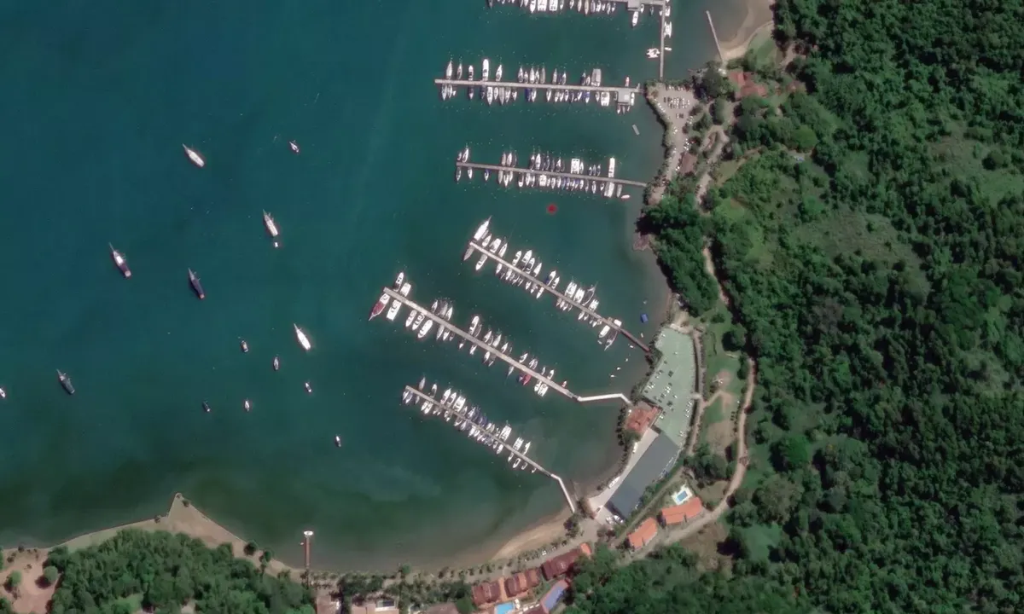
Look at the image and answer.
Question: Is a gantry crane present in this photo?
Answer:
No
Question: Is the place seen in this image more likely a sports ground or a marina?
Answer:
marina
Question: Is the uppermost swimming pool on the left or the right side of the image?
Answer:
right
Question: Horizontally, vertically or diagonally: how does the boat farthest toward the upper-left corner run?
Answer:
diagonally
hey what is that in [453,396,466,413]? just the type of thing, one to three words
boat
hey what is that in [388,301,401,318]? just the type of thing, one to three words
boat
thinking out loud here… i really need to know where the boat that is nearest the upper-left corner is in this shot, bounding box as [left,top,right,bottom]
[183,144,204,166]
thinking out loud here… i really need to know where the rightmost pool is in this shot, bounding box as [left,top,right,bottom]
[672,484,692,504]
